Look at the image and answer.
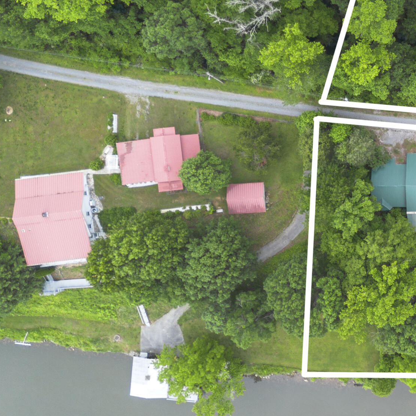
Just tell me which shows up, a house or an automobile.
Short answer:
house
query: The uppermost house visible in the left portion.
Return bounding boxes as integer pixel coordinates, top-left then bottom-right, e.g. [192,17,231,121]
[117,127,203,192]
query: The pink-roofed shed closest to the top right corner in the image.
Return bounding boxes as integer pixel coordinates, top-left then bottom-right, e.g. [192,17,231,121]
[227,182,267,213]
